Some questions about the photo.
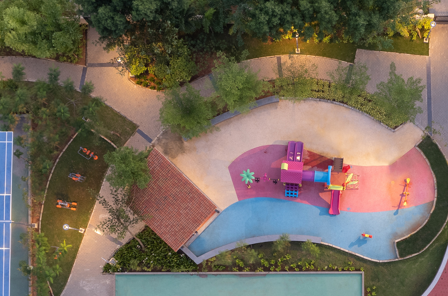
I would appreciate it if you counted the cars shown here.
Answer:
zero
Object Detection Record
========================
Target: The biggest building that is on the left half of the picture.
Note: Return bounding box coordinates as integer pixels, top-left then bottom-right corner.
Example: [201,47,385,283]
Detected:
[128,147,221,253]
